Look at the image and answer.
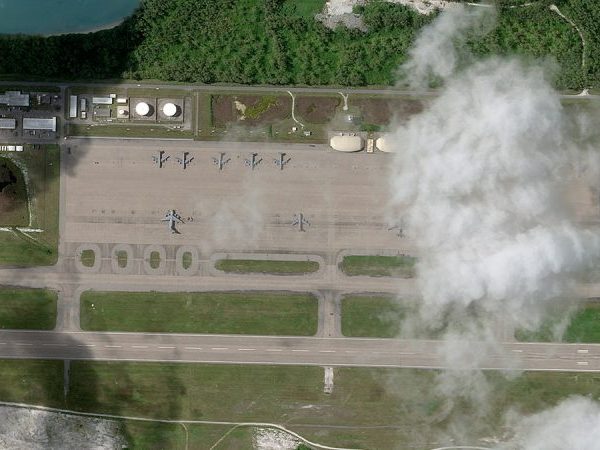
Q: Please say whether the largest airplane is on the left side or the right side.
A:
left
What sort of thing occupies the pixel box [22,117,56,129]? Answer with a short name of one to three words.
shed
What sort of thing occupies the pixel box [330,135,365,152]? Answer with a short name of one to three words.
hangar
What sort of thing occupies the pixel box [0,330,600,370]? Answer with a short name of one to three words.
runway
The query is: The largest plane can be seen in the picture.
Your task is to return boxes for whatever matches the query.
[160,210,182,233]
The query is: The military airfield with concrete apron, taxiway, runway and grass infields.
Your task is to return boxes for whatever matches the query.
[0,131,600,397]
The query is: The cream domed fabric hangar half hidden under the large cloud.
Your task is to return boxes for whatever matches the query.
[376,136,410,152]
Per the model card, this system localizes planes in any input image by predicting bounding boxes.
[272,152,290,171]
[151,150,168,168]
[175,151,193,169]
[160,210,182,233]
[292,213,309,231]
[212,153,229,171]
[244,153,261,171]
